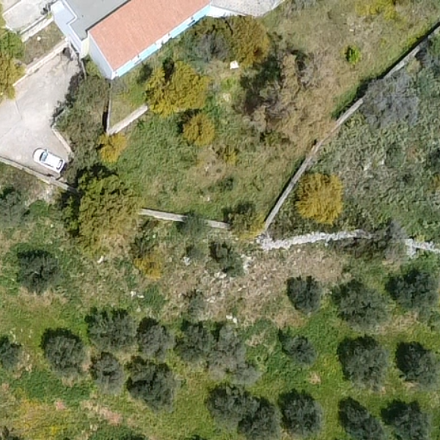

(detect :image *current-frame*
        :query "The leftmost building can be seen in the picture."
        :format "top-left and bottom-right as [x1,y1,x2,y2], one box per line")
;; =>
[51,0,83,60]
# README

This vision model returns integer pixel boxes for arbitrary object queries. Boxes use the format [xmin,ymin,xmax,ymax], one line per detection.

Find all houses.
[85,0,212,81]
[51,0,83,60]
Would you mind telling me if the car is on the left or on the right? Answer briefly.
left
